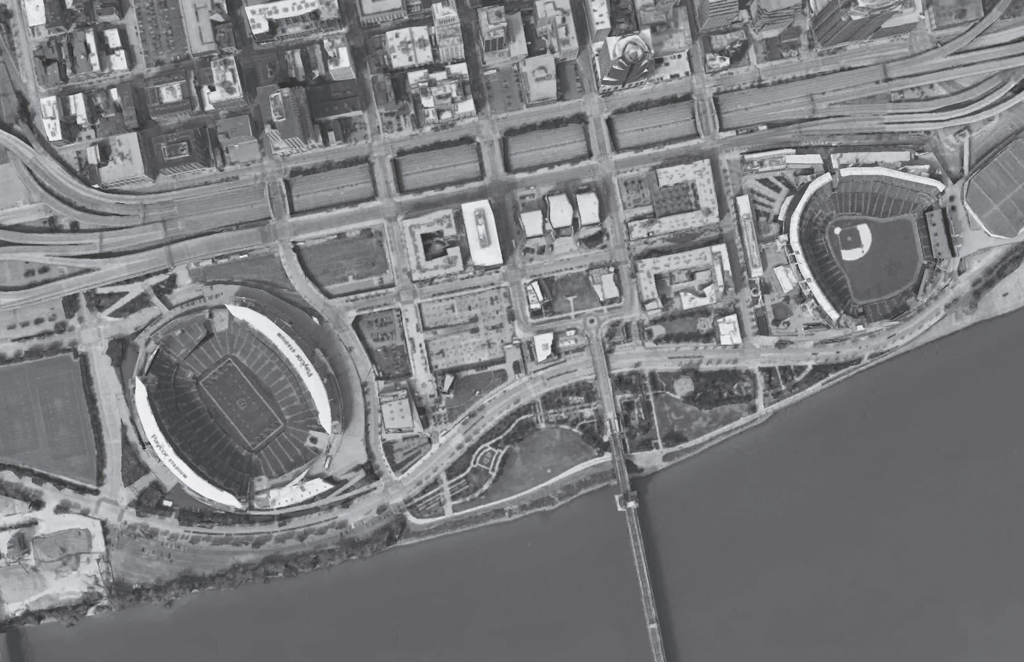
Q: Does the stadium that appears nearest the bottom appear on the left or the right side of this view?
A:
left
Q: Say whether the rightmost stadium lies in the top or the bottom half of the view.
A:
top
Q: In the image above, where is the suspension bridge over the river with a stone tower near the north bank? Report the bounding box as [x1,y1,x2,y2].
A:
[587,330,666,662]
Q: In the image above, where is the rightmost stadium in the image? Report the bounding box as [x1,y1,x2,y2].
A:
[956,131,1024,240]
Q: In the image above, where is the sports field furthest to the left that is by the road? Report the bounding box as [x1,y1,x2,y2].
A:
[0,351,97,488]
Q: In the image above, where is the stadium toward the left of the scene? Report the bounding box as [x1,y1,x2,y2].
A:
[131,292,342,515]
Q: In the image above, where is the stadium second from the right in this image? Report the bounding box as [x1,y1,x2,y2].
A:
[782,167,956,320]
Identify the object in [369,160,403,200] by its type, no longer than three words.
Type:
overpass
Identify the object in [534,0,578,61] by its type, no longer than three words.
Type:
building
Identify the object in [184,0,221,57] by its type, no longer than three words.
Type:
building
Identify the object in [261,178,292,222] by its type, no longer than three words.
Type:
overpass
